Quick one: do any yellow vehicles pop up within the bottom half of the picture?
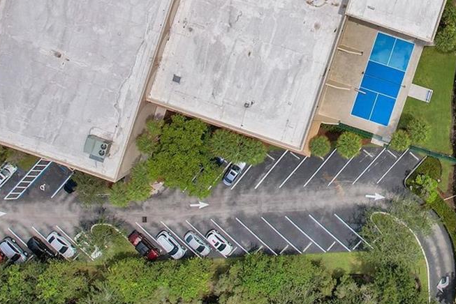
No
